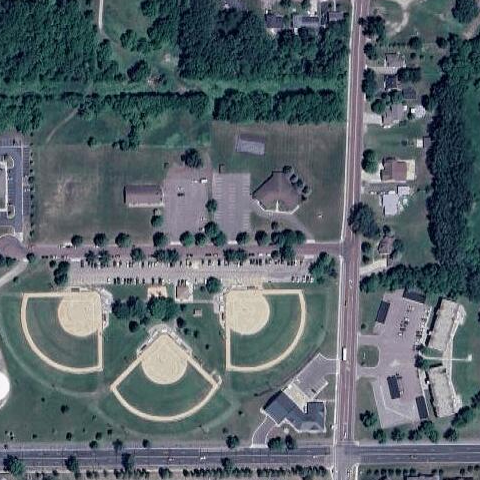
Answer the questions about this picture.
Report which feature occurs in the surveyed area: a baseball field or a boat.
baseball field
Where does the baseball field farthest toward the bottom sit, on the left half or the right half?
left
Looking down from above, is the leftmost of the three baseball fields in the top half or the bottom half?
bottom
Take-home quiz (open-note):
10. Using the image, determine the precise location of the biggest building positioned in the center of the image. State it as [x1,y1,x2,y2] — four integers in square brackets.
[254,172,302,214]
